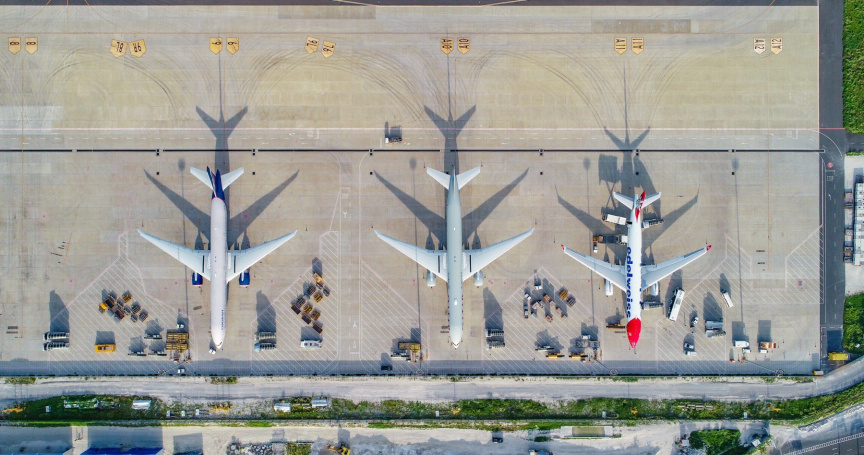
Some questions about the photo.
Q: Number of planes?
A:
3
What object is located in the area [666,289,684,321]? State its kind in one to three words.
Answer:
vehicle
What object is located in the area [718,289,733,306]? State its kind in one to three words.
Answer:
vehicle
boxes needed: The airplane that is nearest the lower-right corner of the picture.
[561,191,715,348]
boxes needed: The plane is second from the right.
[375,169,534,349]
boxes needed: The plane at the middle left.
[136,167,295,349]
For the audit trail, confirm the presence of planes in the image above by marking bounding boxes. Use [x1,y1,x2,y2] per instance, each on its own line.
[375,169,534,349]
[136,167,295,349]
[561,191,715,348]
